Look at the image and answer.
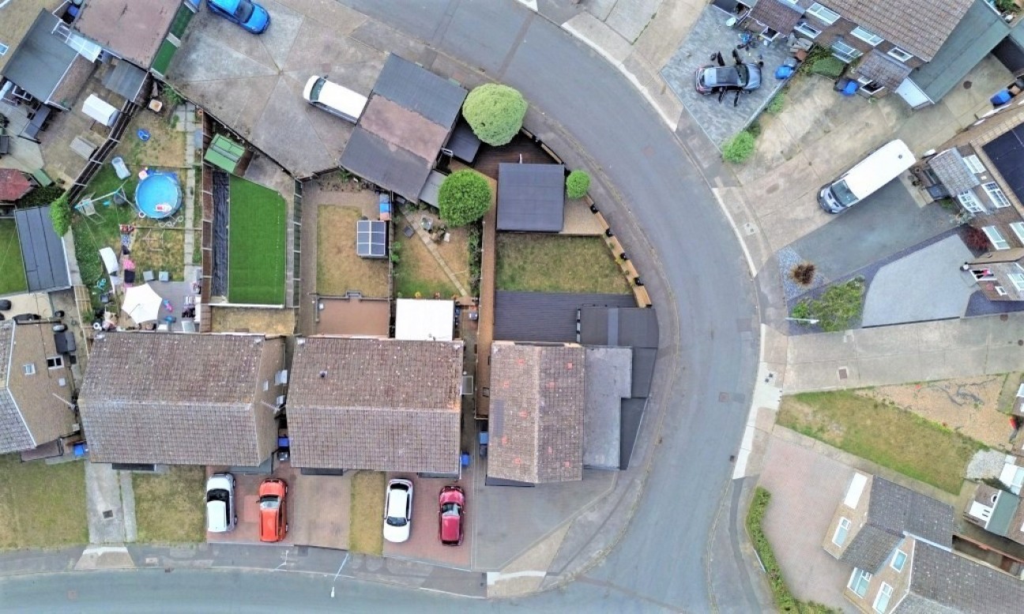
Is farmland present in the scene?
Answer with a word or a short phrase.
No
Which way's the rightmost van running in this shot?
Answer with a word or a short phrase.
at an angle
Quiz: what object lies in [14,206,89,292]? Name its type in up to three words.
shed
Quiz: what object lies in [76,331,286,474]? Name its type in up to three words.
house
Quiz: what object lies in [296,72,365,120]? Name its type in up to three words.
van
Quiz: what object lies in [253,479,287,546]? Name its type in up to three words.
car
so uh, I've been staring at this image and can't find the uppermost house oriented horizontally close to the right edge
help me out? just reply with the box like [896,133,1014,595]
[740,0,974,101]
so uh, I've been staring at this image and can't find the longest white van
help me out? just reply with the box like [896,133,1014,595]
[815,139,917,217]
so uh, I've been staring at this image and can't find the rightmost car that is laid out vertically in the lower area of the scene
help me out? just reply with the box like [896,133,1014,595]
[436,486,467,549]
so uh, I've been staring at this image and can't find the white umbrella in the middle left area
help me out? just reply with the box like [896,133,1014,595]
[122,283,162,324]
